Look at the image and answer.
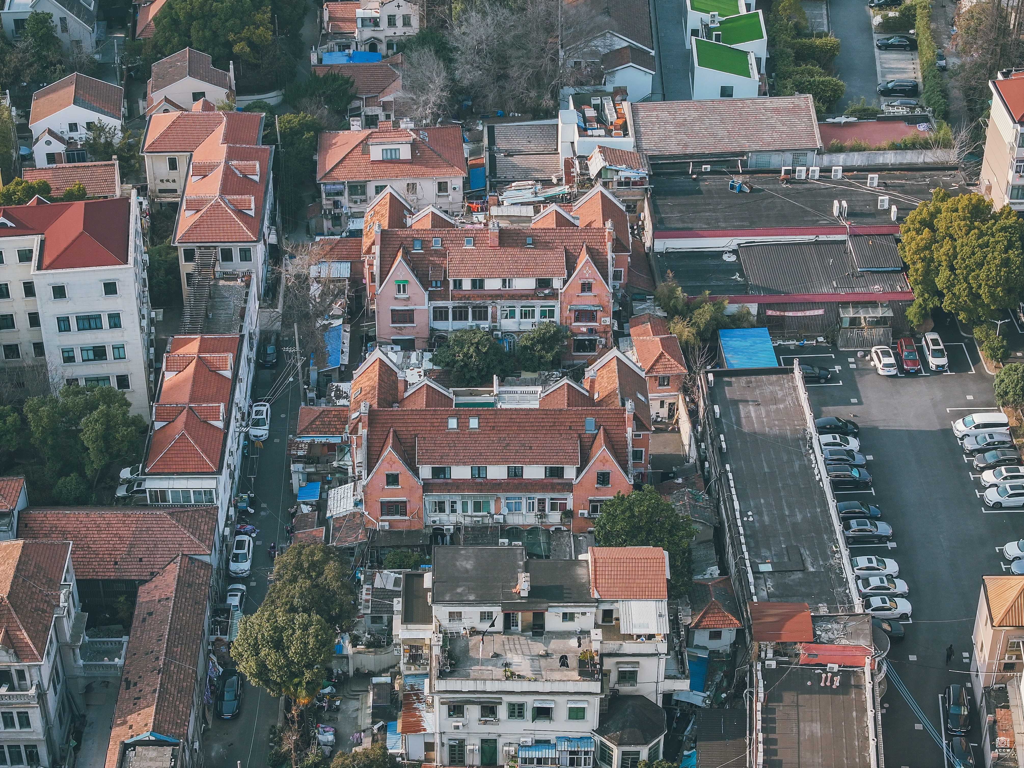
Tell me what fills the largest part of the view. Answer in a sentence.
Most of the picture is covered by buildings.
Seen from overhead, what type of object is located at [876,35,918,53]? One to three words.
car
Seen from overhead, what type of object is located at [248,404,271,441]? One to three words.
car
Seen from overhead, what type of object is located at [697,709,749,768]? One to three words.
shed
